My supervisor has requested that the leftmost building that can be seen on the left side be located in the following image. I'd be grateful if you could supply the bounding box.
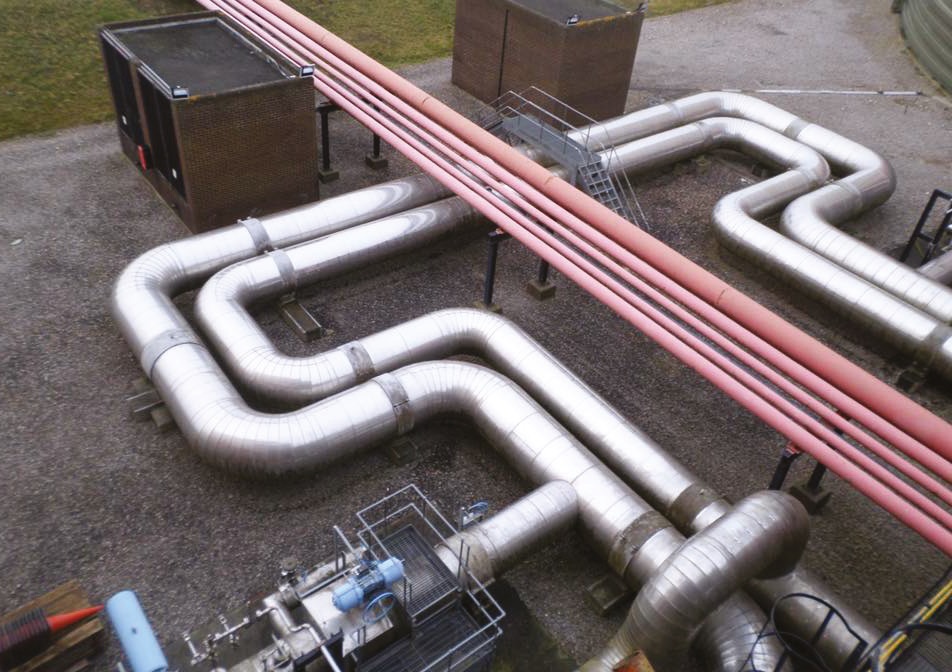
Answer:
[98,9,316,232]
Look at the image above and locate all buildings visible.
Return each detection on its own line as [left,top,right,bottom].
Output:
[452,0,647,132]
[98,9,316,232]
